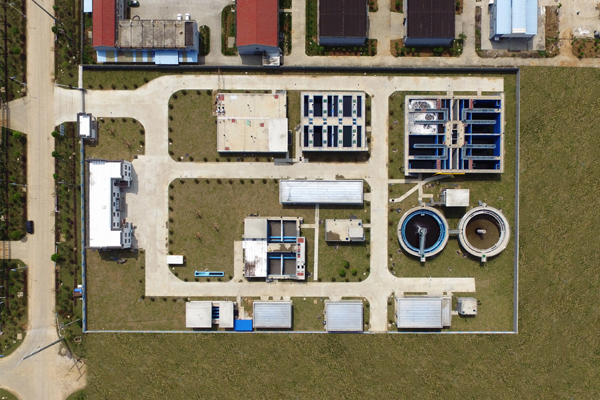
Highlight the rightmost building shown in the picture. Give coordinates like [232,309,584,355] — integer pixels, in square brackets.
[490,0,537,42]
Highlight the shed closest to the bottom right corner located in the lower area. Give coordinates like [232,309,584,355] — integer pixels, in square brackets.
[455,297,478,315]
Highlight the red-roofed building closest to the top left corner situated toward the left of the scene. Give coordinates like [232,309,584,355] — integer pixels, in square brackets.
[93,0,122,50]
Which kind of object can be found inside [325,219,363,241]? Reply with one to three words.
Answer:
shed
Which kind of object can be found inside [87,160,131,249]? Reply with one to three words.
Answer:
building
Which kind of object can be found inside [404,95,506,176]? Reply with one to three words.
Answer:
water tank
